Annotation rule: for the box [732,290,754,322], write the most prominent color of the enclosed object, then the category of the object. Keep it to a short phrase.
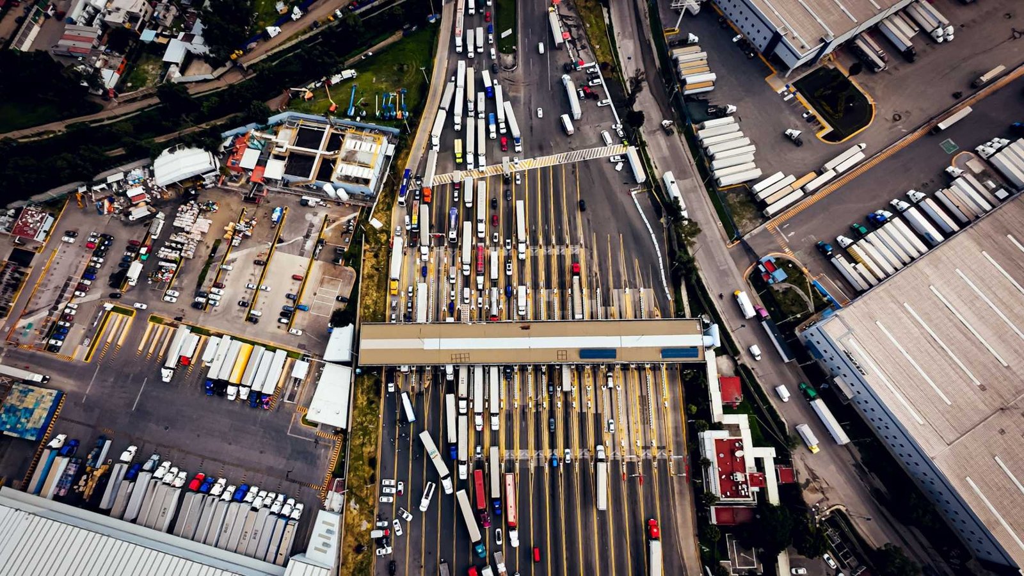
white truck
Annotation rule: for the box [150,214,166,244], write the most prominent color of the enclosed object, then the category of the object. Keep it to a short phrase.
gray vehicle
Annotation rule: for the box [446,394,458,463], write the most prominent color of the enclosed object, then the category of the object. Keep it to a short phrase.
white vehicle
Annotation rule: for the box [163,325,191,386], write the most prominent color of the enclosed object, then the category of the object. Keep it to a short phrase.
white truck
